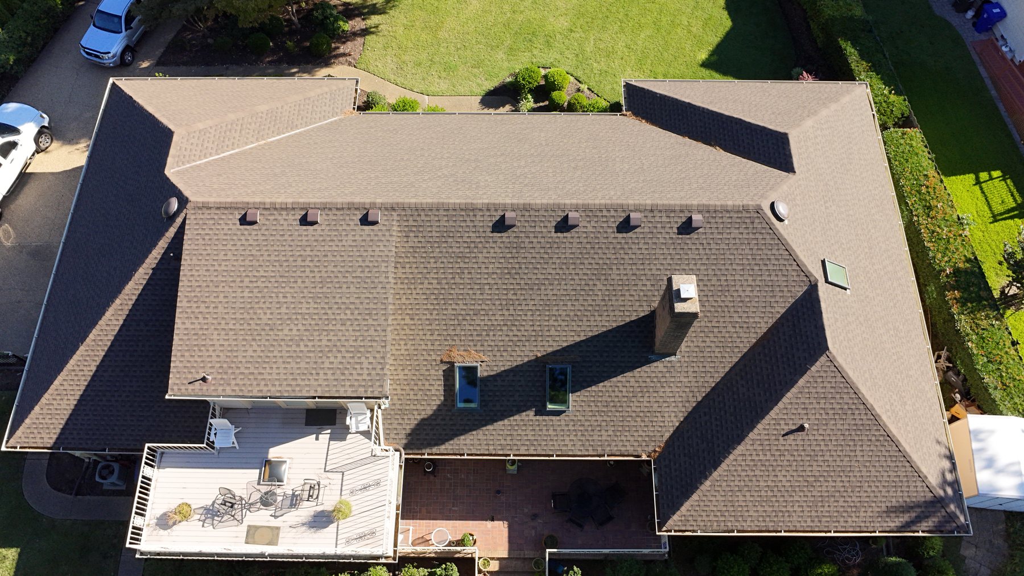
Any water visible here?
No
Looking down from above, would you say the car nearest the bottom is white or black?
white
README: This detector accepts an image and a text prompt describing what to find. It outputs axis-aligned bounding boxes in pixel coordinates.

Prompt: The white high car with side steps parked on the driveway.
[0,100,51,206]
